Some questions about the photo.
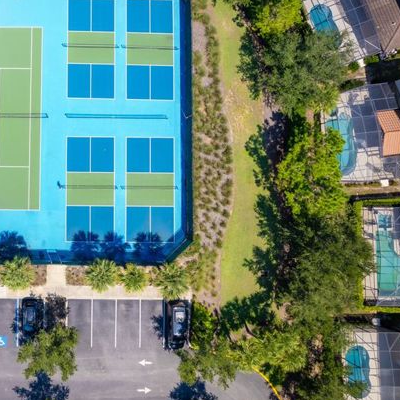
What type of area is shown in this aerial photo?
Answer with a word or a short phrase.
sports ground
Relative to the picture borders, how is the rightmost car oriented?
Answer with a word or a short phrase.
from top to bottom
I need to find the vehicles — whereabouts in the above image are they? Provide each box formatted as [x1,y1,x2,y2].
[167,302,187,348]
[21,296,39,338]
